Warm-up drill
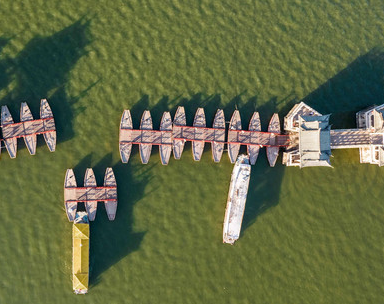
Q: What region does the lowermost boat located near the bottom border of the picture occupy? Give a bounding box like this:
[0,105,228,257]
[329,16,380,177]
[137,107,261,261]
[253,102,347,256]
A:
[72,212,90,295]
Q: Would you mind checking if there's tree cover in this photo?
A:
No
